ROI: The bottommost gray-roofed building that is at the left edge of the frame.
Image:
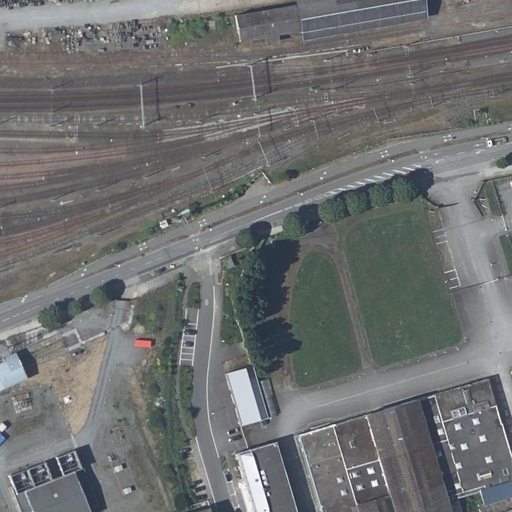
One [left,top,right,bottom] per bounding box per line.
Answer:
[8,450,90,512]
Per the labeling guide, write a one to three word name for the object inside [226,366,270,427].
building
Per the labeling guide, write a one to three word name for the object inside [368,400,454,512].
building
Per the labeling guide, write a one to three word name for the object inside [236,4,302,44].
shed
